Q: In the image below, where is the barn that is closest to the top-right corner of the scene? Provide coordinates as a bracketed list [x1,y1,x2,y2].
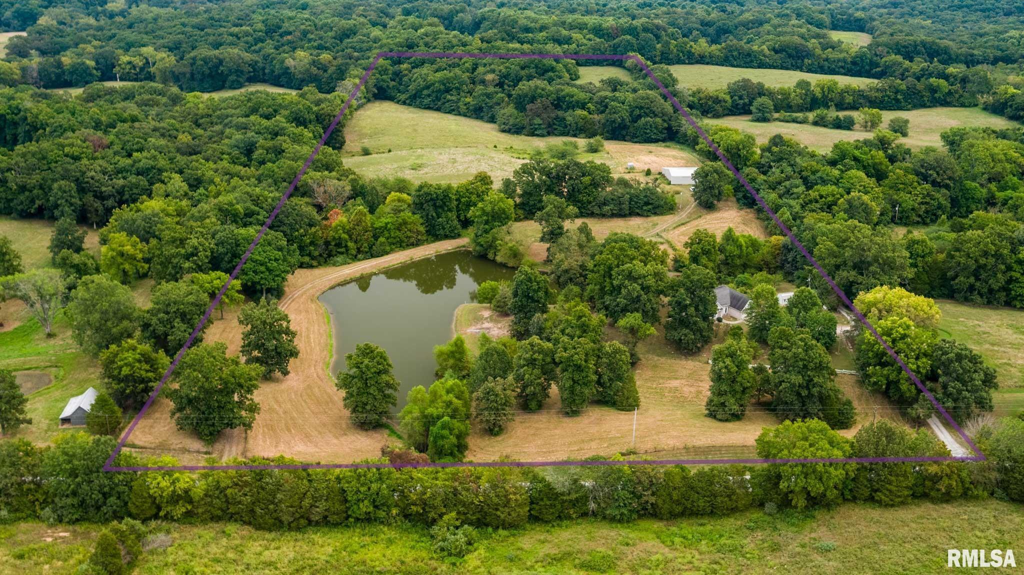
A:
[664,166,707,184]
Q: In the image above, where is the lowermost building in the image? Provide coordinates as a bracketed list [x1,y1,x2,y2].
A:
[55,384,108,426]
